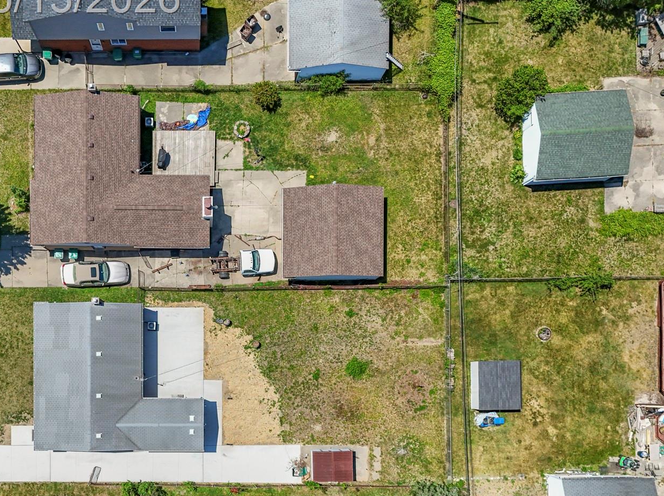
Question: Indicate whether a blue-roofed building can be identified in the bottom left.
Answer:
No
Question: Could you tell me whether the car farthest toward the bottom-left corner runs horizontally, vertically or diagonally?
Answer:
horizontally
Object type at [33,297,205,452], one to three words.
house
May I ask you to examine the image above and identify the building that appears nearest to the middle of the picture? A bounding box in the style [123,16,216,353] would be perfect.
[282,180,385,283]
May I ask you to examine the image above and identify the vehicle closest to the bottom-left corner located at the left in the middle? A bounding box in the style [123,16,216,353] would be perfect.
[62,258,131,289]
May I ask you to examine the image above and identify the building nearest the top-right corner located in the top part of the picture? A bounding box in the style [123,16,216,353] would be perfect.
[519,89,635,186]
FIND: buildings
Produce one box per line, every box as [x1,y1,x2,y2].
[519,89,635,186]
[29,84,213,250]
[10,0,211,55]
[288,0,390,78]
[546,474,659,496]
[311,450,353,481]
[282,180,385,283]
[33,297,205,452]
[470,361,522,410]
